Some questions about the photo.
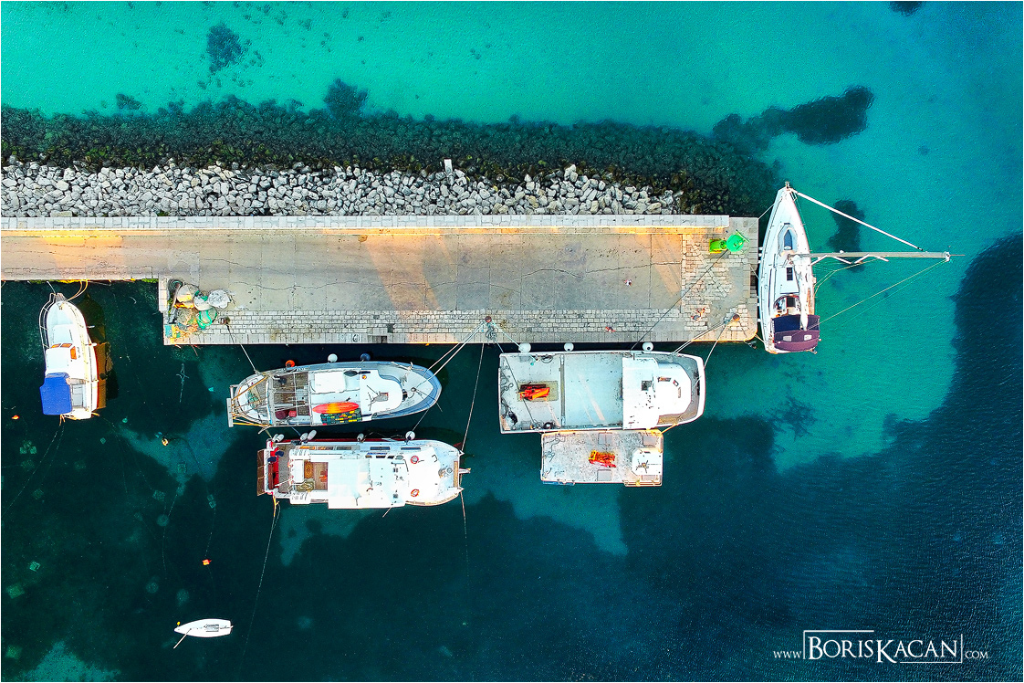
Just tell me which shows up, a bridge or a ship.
ship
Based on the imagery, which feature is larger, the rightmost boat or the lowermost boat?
the rightmost boat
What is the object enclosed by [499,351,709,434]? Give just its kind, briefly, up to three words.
vessel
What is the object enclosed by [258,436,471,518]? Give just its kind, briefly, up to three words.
boat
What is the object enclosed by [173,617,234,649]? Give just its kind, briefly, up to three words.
boat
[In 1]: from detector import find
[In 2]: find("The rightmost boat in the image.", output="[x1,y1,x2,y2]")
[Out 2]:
[758,181,965,354]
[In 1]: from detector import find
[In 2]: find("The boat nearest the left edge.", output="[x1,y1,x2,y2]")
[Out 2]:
[40,292,112,425]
